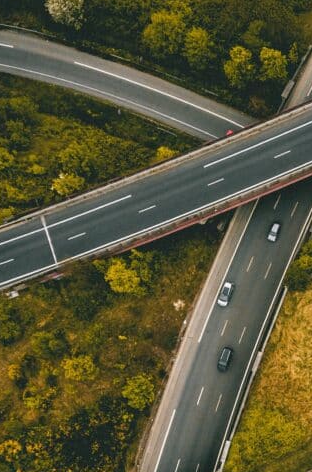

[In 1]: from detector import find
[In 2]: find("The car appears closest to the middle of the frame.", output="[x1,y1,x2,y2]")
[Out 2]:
[217,281,234,307]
